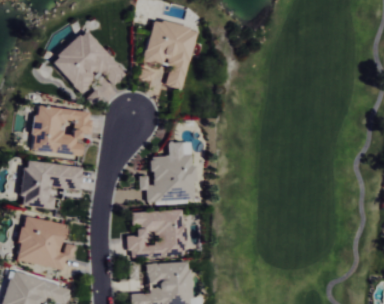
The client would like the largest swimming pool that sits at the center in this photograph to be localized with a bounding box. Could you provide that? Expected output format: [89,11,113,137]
[181,130,204,153]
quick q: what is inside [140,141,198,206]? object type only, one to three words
house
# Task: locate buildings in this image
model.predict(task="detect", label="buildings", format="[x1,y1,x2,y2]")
[126,212,186,258]
[16,216,76,270]
[3,272,71,304]
[140,141,198,206]
[54,32,125,94]
[132,263,204,304]
[30,106,91,154]
[138,20,197,90]
[18,162,82,210]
